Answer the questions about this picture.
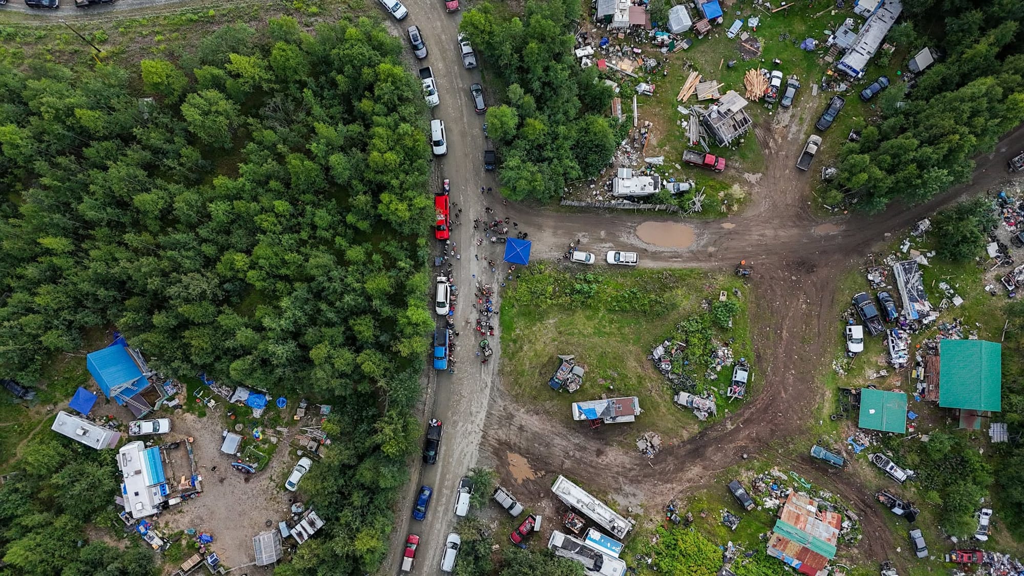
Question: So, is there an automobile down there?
Yes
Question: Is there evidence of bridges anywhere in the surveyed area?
No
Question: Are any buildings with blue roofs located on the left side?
Yes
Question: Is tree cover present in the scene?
Yes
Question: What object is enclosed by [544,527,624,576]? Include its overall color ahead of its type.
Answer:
white camper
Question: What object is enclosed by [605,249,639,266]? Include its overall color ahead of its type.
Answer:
white car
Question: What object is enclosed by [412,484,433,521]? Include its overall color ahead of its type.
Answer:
blue car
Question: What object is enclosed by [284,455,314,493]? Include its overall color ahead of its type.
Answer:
white car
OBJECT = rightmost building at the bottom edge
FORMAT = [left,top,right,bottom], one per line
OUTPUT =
[766,491,841,576]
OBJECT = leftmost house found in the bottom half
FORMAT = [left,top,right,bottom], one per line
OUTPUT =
[82,342,159,404]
